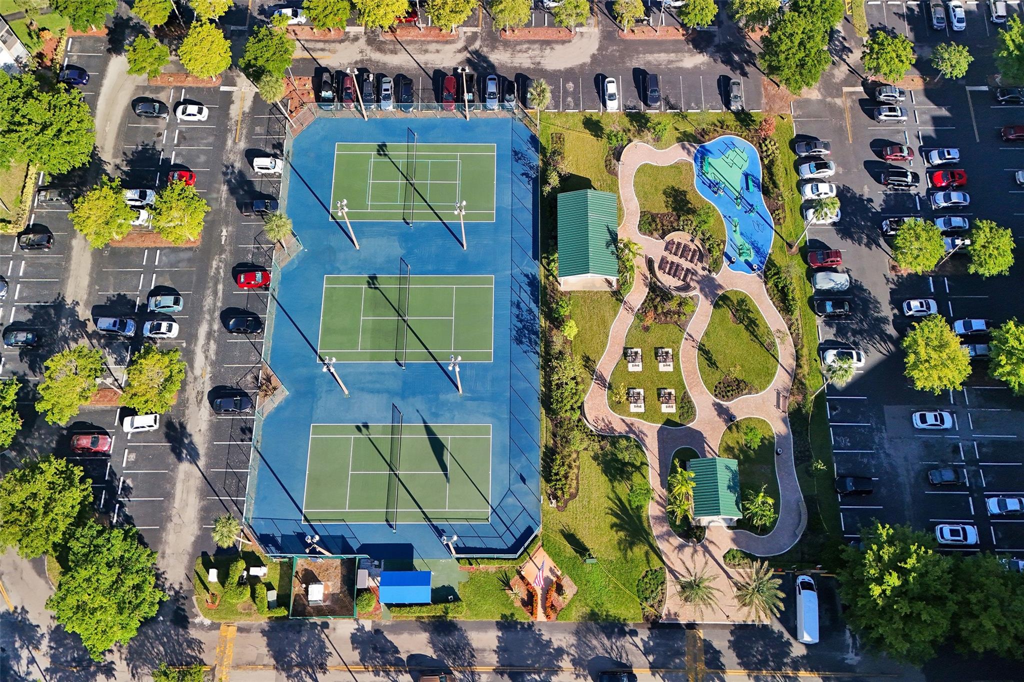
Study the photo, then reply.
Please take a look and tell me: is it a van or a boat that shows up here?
van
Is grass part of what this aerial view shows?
Yes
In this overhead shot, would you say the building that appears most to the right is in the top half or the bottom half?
bottom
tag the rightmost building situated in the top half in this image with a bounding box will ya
[557,189,619,290]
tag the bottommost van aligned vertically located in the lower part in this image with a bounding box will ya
[794,579,822,646]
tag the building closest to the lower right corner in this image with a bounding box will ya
[686,457,742,526]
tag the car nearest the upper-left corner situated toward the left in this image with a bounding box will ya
[57,68,91,86]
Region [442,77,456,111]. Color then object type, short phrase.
red car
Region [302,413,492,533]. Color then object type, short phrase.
green tennis court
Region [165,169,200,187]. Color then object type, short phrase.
red car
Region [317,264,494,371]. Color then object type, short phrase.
green tennis court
